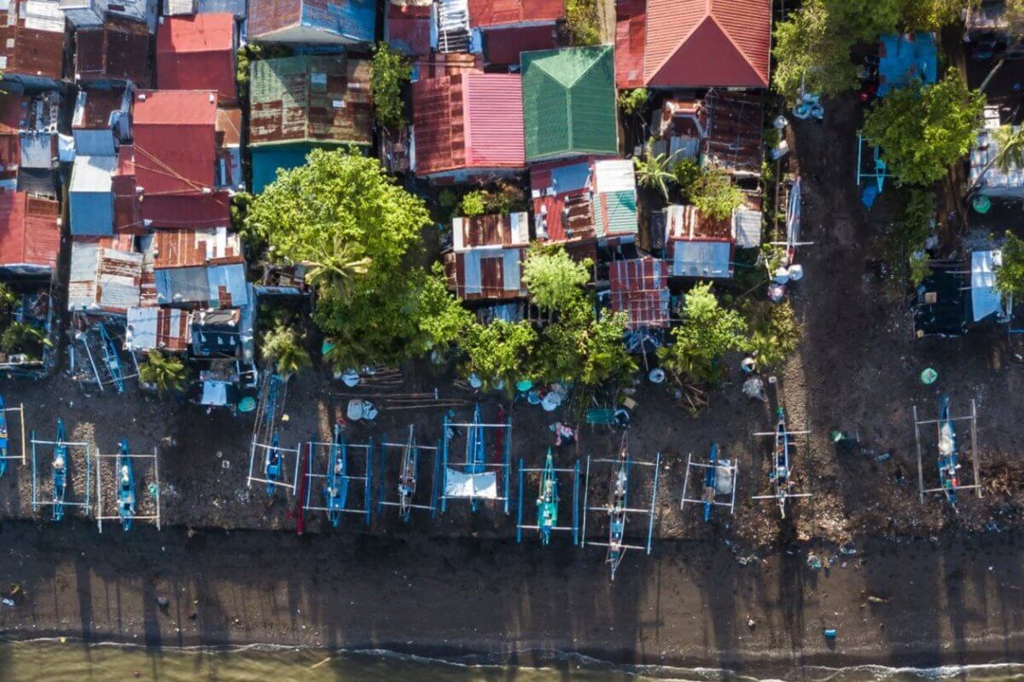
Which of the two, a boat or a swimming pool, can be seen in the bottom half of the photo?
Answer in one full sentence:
Visible in the bottom half of the photo is a boat.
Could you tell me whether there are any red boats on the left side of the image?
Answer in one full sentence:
No, no red boat is visible on the left side of the image.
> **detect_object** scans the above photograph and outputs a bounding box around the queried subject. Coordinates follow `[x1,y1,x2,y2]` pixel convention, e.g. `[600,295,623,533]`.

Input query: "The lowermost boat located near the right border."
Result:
[914,396,982,514]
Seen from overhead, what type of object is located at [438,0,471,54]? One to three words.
shed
